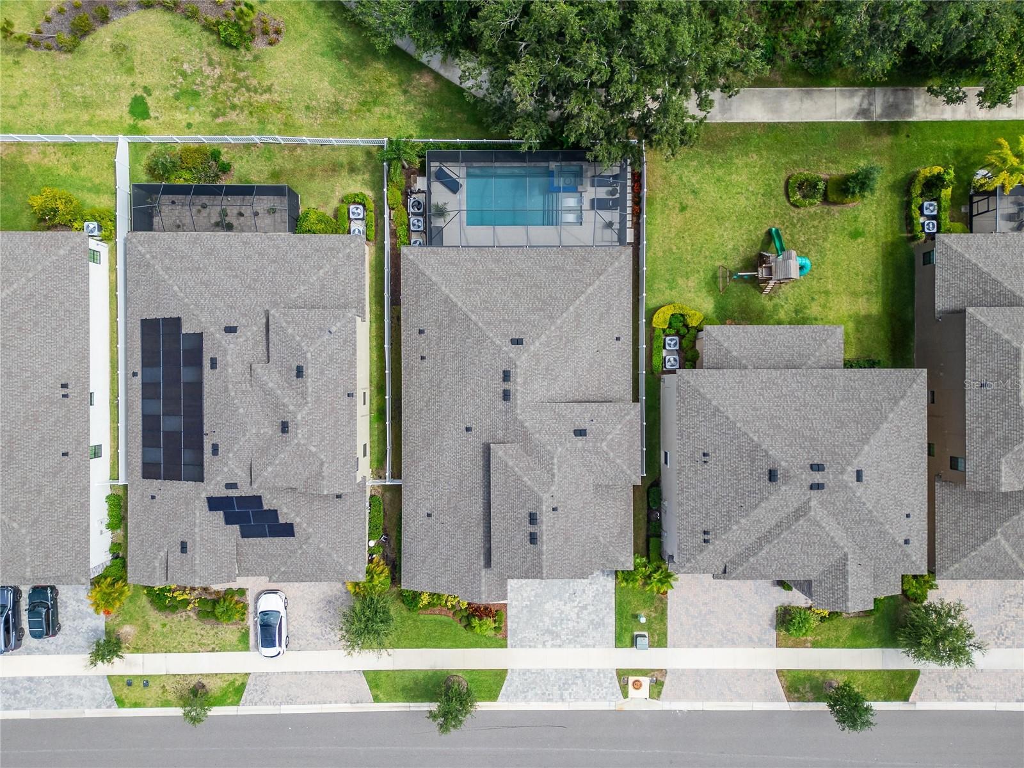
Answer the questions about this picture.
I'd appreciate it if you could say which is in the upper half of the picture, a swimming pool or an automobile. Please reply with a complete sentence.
It is a swimming pool that can be seen in the upper half of the picture.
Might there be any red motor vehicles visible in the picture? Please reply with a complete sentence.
No, no red motor vehicle can be seen from above.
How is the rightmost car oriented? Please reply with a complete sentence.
The rightmost car runs vertically in the image.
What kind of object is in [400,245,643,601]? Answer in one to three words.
house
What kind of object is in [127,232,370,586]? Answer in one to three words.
house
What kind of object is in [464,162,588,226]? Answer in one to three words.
swimming pool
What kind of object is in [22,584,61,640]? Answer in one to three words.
car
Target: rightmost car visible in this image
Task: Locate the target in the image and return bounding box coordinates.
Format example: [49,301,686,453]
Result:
[254,588,289,658]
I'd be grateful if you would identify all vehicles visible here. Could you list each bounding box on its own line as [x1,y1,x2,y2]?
[254,588,289,658]
[0,584,27,653]
[22,584,61,640]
